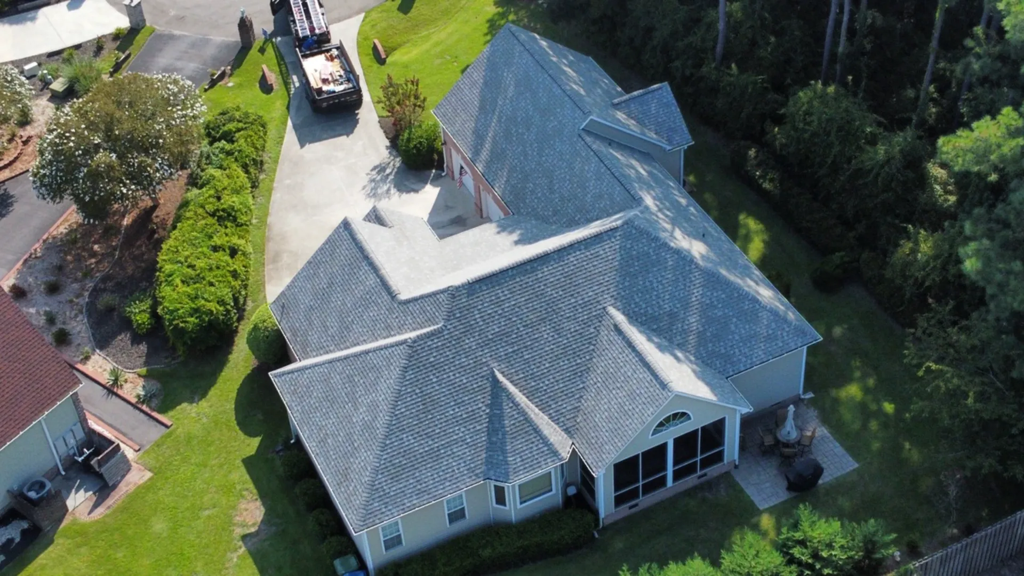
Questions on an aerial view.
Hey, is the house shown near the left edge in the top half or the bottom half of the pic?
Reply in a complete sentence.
The house shown near the left edge is in the bottom half of the image.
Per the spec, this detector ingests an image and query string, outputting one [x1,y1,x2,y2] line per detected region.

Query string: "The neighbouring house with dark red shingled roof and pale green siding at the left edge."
[0,287,95,521]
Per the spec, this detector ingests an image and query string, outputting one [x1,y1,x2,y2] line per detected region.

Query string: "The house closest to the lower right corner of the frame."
[265,23,827,576]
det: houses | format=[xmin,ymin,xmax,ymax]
[0,287,95,521]
[265,23,827,576]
